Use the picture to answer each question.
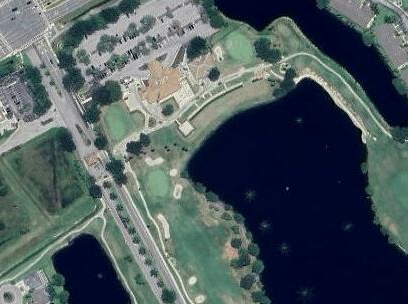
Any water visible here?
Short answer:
Yes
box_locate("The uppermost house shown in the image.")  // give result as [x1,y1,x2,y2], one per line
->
[327,0,375,28]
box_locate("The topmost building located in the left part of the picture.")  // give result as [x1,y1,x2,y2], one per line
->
[138,59,184,106]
